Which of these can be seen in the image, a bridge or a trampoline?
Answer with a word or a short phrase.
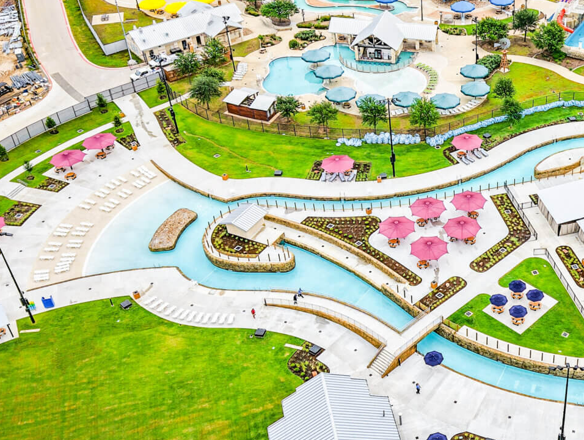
bridge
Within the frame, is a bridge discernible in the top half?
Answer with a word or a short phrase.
No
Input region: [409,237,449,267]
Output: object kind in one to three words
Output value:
umbrella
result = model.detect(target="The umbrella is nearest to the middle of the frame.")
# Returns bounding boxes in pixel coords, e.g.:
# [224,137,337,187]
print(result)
[321,156,355,180]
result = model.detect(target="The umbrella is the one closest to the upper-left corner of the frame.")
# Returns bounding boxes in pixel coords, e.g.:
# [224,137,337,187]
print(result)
[138,0,168,16]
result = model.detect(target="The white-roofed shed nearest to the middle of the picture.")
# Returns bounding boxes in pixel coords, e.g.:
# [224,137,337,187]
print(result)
[219,203,266,243]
